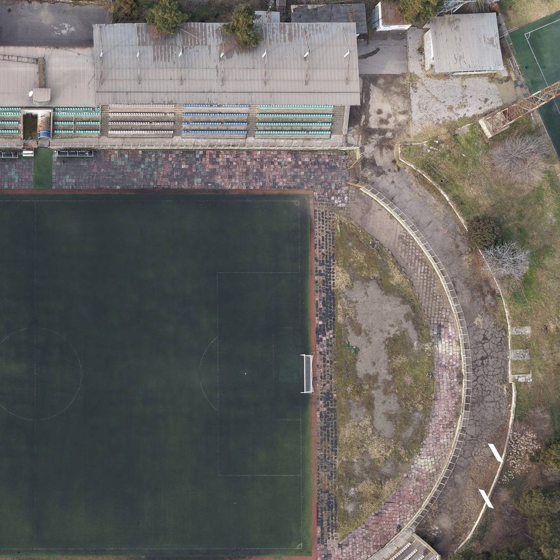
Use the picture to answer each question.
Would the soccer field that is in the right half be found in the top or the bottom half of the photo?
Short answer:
top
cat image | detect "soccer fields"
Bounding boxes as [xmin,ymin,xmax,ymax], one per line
[0,189,318,560]
[507,7,560,158]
